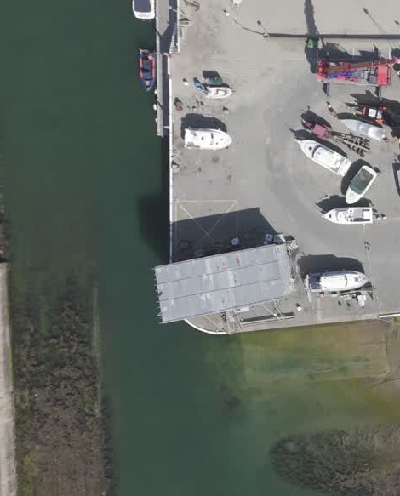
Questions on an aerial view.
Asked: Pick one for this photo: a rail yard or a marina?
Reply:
marina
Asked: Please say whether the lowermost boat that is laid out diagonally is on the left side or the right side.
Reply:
right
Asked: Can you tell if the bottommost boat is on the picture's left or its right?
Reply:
right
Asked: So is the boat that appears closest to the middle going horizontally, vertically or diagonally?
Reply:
horizontally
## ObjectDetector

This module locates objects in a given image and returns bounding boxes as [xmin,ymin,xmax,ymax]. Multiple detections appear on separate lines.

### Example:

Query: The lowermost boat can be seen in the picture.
[301,271,367,295]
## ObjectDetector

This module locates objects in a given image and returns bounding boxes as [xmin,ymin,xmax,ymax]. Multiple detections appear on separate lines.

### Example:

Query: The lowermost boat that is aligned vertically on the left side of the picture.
[137,44,155,90]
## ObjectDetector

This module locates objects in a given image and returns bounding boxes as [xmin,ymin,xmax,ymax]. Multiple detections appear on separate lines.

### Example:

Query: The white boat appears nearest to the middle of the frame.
[185,130,234,150]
